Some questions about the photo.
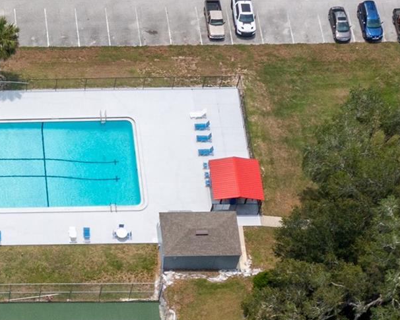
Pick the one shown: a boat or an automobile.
automobile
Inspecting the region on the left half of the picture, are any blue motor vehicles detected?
No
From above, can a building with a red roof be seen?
Yes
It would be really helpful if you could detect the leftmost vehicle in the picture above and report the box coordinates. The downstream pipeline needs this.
[202,0,225,39]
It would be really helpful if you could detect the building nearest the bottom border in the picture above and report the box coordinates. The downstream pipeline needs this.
[157,213,242,274]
